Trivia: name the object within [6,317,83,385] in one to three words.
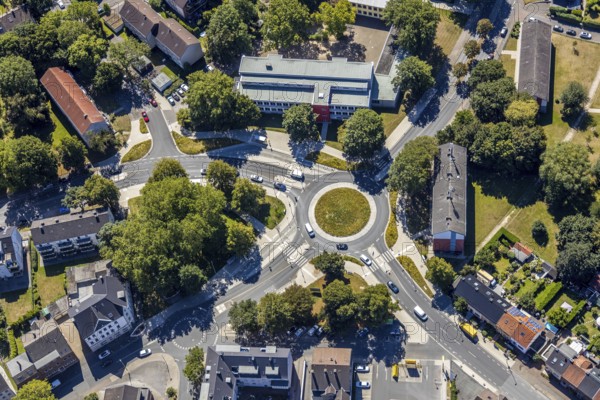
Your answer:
house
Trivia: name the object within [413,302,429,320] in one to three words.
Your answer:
vehicle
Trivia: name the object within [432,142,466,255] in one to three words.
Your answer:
building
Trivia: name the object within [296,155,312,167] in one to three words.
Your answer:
vehicle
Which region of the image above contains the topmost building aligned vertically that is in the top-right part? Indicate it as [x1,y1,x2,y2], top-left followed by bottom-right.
[510,23,549,120]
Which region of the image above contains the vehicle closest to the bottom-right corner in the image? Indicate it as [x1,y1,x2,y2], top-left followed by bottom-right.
[458,317,479,339]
